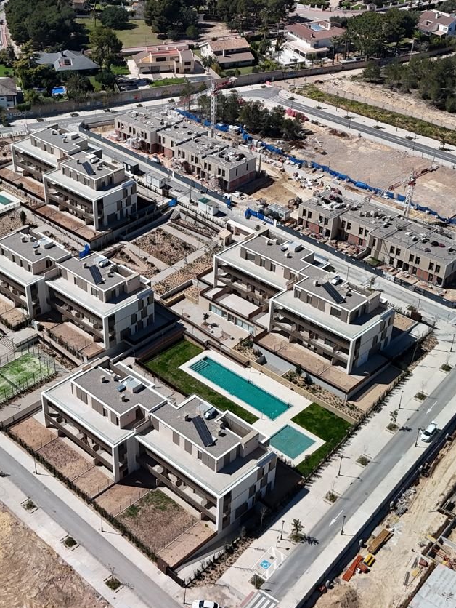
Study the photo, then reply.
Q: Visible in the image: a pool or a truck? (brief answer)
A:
pool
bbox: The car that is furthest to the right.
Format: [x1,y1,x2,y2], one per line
[421,423,437,439]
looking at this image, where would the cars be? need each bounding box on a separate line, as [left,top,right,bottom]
[421,423,437,439]
[192,600,219,608]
